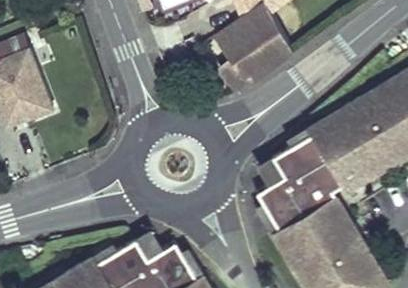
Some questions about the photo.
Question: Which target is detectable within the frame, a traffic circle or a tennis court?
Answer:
traffic circle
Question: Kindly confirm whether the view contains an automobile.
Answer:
Yes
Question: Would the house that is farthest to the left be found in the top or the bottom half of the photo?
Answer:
top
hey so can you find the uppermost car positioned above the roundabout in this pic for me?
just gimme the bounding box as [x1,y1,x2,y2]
[208,14,230,27]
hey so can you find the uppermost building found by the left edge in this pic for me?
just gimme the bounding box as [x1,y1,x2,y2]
[0,48,54,128]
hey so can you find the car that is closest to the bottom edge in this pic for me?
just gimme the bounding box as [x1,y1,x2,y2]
[388,186,406,210]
